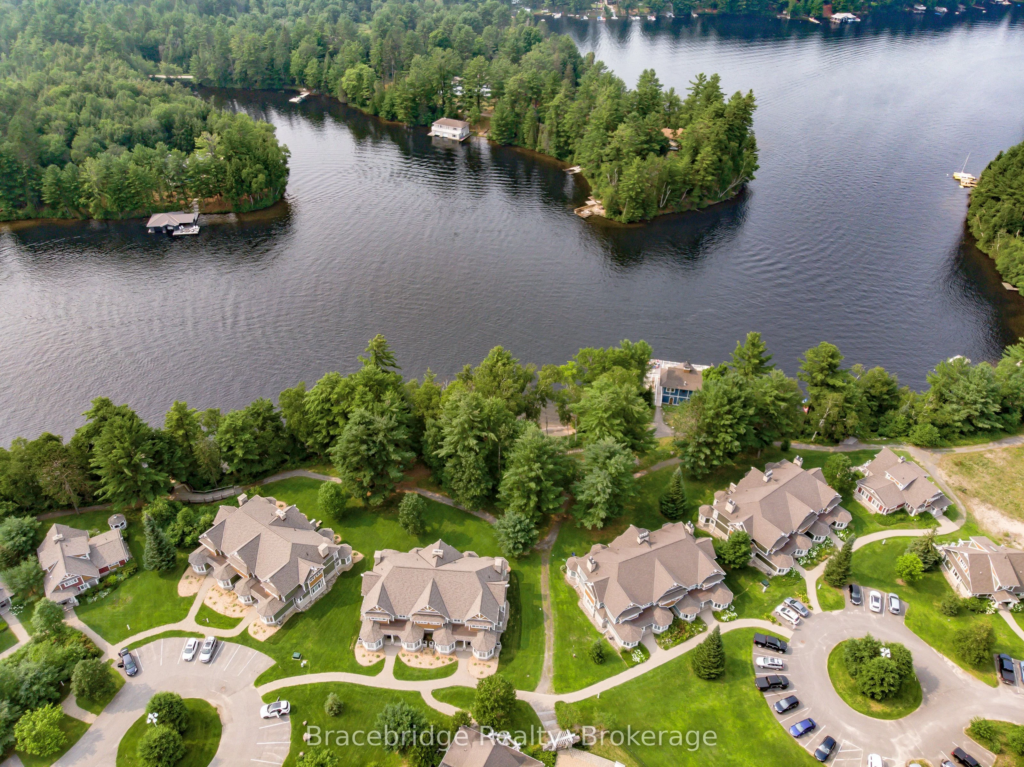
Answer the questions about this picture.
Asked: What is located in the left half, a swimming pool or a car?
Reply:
car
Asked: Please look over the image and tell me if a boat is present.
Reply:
Yes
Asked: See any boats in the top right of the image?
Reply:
Yes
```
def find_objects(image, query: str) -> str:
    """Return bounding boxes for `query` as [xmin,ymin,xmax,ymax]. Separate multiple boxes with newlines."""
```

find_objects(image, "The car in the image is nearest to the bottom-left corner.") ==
[115,647,138,677]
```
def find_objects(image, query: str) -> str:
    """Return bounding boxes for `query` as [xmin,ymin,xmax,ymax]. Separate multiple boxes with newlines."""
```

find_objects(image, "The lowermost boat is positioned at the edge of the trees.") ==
[944,354,971,366]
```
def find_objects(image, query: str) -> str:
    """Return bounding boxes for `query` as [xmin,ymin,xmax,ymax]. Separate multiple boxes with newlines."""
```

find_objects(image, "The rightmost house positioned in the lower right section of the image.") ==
[944,533,1024,612]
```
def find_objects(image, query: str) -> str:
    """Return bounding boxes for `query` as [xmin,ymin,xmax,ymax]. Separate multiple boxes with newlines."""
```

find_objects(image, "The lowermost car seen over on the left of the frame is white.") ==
[261,697,290,721]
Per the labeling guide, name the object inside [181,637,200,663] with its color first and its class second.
white car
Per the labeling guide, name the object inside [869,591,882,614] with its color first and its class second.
white vehicle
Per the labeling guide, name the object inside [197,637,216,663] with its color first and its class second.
white car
